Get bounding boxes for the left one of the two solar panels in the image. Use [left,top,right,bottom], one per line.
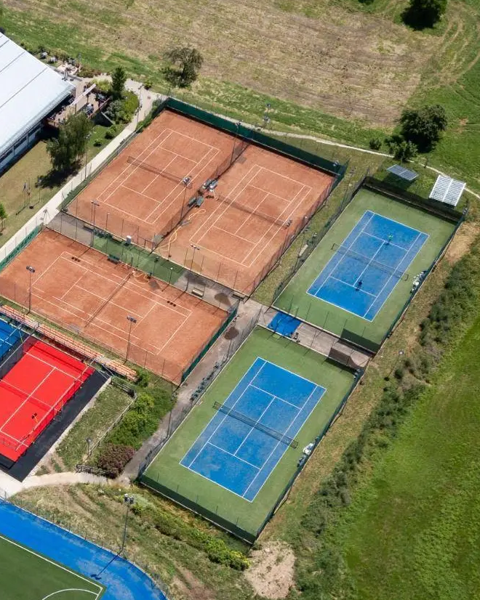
[388,165,419,182]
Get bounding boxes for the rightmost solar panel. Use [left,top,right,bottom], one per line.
[432,176,465,201]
